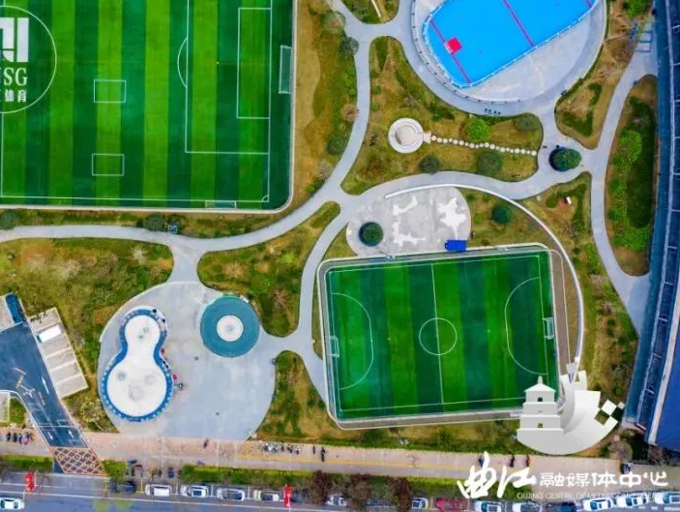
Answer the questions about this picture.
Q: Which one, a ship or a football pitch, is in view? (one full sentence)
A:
There is a football pitch in the scene.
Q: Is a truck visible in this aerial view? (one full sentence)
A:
No, the photo shows no truck.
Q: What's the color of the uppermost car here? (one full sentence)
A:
The color of the uppermost car is blue.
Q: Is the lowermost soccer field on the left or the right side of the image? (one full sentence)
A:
The lowermost soccer field sits on the right side.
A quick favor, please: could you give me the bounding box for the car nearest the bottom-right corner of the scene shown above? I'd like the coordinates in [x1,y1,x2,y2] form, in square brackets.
[652,490,680,507]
